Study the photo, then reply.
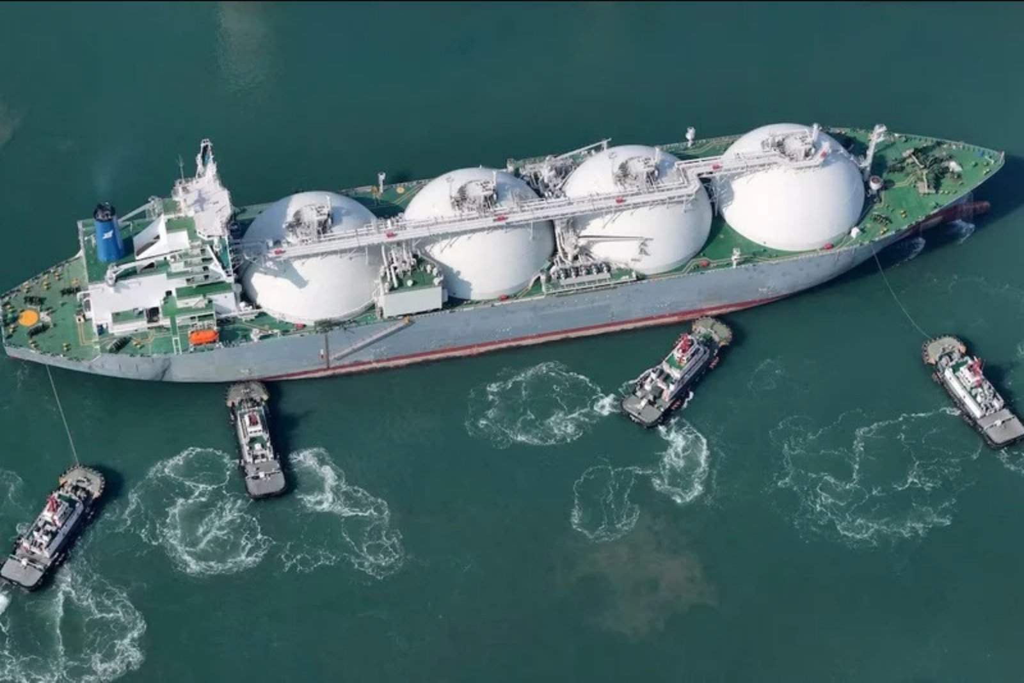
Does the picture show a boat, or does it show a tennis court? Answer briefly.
boat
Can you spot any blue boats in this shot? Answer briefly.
No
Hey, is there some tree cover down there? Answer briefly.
No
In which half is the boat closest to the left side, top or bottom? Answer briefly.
bottom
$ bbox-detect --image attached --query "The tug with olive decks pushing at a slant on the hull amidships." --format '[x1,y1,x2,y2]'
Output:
[625,317,728,426]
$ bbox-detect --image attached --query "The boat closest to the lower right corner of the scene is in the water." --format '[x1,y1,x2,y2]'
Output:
[921,336,1021,455]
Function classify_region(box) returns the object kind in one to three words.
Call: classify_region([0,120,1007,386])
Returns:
ship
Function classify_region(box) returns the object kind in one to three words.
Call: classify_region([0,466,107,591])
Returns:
boat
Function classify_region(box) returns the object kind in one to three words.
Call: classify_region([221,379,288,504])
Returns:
boat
